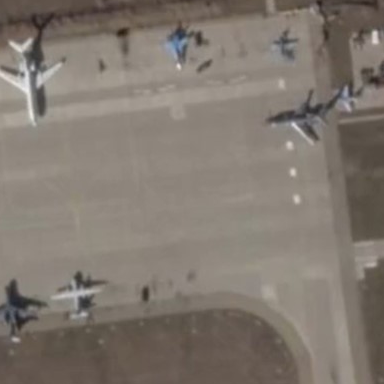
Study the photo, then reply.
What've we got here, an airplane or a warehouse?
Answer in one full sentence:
This aerial view contains an airplane.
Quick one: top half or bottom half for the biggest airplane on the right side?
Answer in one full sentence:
It is in the top half that the biggest airplane on the right side appears.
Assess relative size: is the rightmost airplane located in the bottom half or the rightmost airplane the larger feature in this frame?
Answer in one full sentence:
The larger object is the rightmost airplane located in the bottom half, with the rightmost airplane being the smaller of the pair.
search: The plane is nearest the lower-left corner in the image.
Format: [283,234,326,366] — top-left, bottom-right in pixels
[0,293,39,342]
